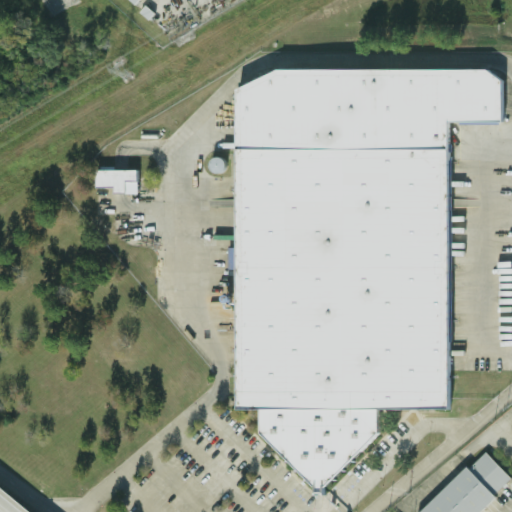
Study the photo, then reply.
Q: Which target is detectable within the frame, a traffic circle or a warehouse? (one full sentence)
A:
I can see a warehouse in this picture.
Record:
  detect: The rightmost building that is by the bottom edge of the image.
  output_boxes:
[472,453,511,494]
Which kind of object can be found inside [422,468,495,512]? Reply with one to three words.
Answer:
building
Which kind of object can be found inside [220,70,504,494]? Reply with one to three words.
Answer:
warehouse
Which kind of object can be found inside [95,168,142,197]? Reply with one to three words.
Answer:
building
